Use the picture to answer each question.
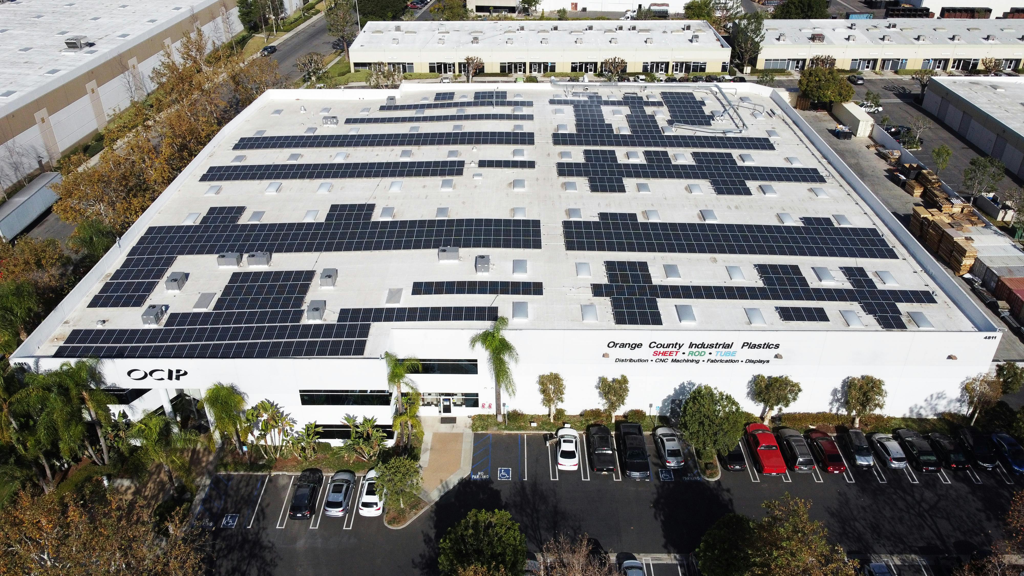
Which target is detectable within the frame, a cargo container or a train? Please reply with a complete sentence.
Visible in the photo is a cargo container.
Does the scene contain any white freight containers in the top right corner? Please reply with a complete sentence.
Yes, in the top right corner there is a white freight container.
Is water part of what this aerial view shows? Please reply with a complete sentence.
No, water can't be seen anywhere here.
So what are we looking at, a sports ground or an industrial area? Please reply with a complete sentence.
The area seen from above is an industrial area.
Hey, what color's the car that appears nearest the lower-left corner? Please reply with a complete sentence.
The car that appears nearest the lower-left corner looks black in the image.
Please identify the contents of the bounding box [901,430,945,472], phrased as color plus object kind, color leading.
black car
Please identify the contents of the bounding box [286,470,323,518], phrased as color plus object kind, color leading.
black car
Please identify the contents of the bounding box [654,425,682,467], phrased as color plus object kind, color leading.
gray car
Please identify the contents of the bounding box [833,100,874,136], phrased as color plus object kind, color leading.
white shipping container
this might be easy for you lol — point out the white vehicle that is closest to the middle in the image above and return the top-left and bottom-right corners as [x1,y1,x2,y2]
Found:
[546,428,580,470]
